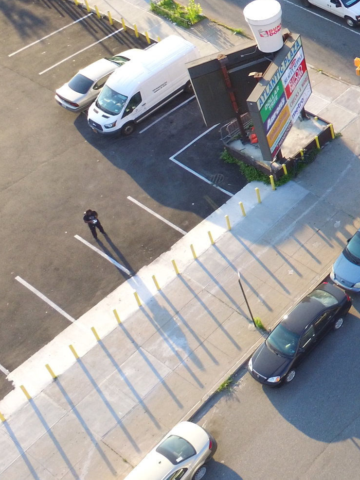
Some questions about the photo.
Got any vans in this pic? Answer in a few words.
Yes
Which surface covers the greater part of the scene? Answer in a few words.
paved ground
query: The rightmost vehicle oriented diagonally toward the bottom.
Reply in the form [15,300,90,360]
[240,282,349,393]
